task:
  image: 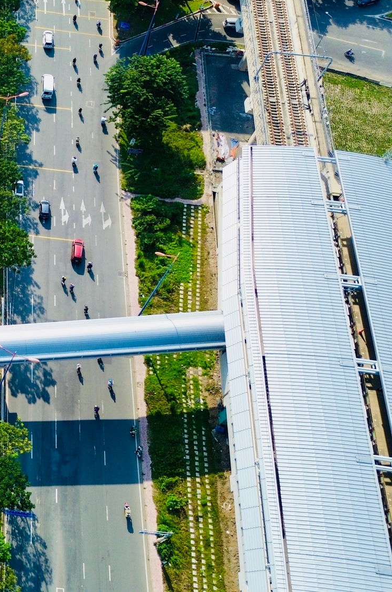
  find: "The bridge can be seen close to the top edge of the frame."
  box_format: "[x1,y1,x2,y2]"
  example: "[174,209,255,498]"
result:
[224,0,341,212]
